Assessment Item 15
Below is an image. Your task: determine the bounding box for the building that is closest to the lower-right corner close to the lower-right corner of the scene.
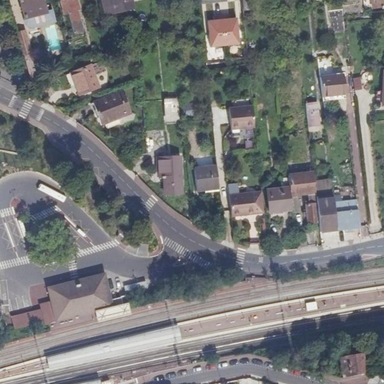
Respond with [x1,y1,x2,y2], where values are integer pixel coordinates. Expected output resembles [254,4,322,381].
[340,354,368,377]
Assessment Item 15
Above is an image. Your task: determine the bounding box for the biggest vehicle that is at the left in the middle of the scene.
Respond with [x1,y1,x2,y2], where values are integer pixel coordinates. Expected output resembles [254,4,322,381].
[38,182,66,202]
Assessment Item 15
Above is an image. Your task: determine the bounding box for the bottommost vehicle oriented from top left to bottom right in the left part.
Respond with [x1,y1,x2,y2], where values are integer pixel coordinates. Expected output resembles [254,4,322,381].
[74,225,99,248]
